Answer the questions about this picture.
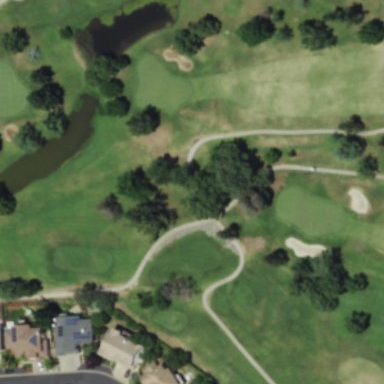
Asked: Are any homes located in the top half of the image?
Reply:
No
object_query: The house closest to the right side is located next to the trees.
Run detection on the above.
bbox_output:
[138,358,184,384]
